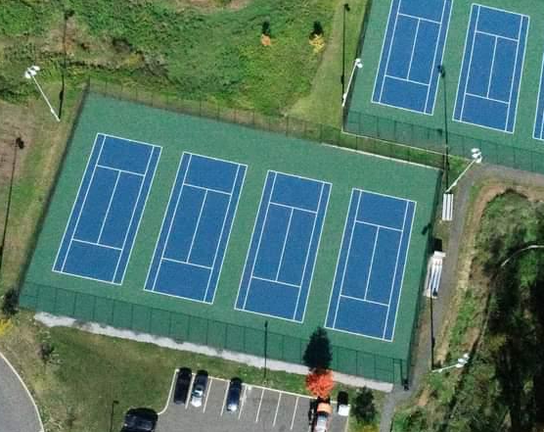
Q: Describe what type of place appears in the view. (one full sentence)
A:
The picture captures a sports ground.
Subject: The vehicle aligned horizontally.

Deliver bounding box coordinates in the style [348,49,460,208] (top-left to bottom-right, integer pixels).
[124,411,158,428]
